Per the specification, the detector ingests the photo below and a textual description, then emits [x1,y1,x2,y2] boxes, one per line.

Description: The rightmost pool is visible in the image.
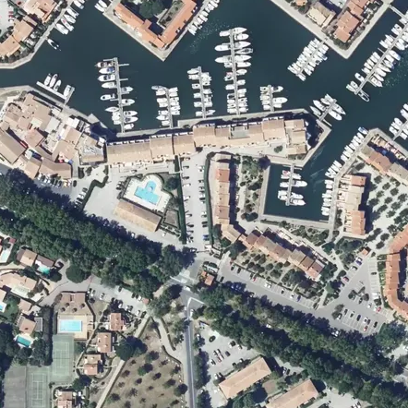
[123,174,169,211]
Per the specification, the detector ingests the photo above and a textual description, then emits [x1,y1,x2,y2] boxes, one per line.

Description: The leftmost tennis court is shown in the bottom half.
[2,366,26,408]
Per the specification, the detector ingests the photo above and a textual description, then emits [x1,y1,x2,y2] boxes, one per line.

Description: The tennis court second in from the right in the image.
[26,366,51,408]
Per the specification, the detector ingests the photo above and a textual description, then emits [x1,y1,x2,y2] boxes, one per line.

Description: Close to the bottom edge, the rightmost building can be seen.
[288,380,318,408]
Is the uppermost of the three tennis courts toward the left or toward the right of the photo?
left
